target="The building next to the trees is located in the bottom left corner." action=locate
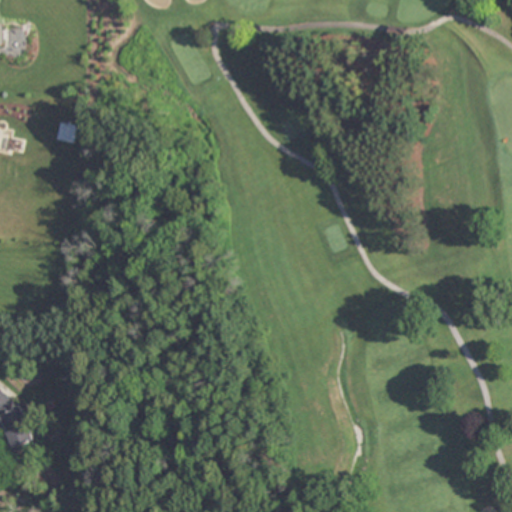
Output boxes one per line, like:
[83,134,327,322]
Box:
[4,432,32,450]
